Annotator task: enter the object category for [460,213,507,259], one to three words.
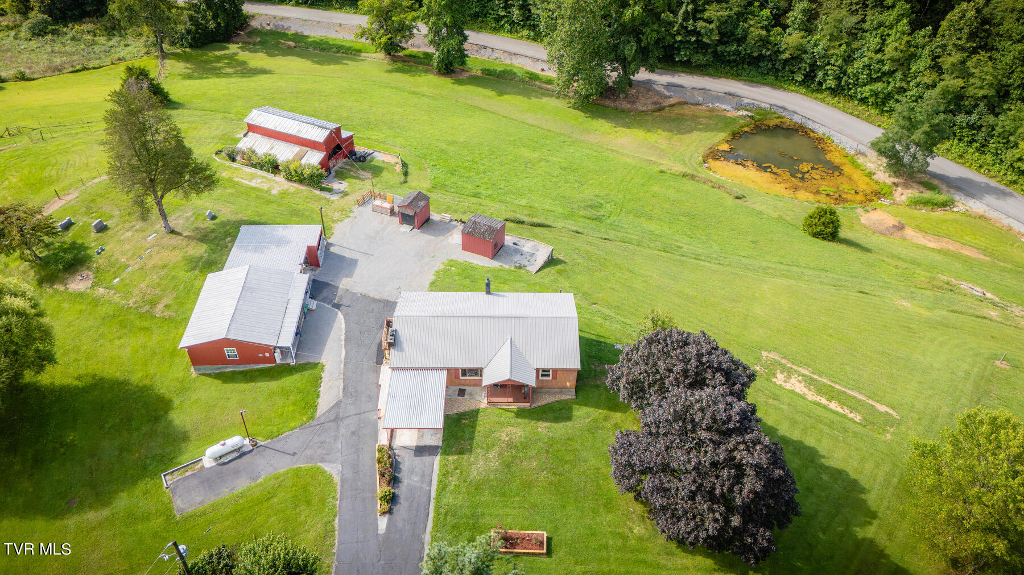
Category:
shed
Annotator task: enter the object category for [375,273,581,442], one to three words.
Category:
house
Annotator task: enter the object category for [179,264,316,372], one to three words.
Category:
building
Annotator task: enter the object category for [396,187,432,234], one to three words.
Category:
shed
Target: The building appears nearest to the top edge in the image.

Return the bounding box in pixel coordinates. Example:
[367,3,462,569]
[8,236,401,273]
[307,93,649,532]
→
[239,107,355,174]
